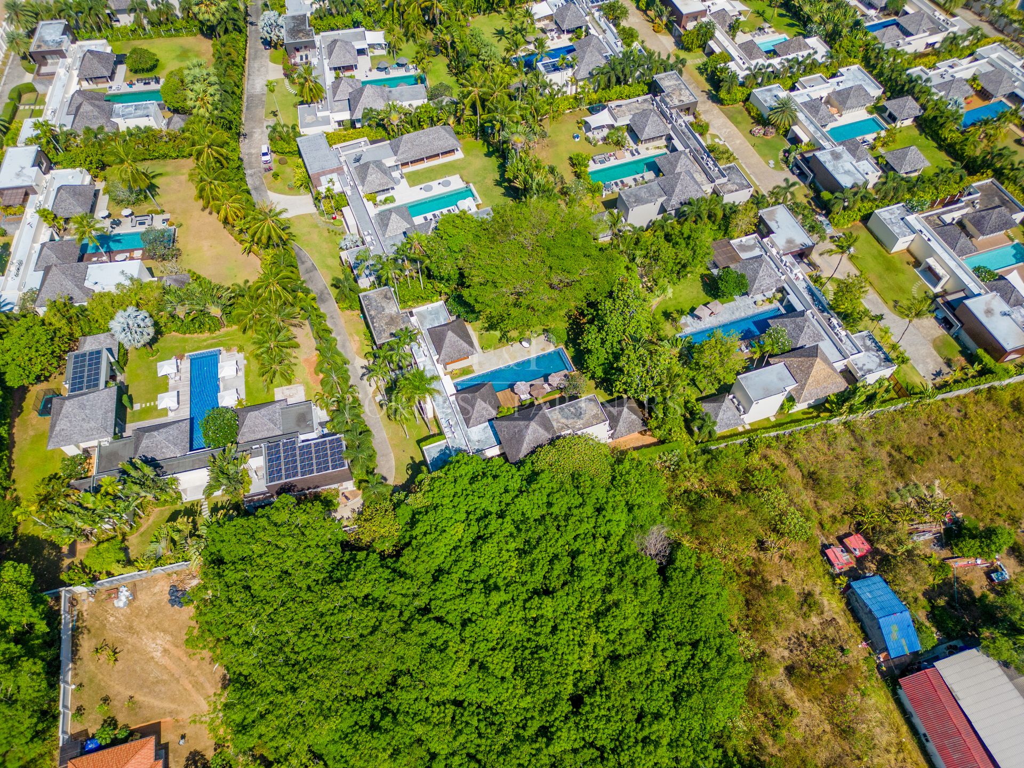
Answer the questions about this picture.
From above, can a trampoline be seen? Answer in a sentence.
Yes, the frame does contain a trampoline.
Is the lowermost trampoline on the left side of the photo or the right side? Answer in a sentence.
You can find the lowermost trampoline on the left side of the picture.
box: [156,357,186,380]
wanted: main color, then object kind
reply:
white umbrella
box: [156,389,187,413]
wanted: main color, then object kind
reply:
white umbrella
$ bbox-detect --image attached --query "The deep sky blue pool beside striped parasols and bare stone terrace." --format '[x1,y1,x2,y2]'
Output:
[452,345,582,400]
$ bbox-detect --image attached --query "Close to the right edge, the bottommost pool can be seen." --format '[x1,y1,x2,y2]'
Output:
[962,240,1024,274]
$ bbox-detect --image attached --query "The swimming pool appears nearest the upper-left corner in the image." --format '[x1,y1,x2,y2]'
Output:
[107,89,164,104]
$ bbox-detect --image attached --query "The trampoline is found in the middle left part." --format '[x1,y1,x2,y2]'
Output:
[29,387,65,421]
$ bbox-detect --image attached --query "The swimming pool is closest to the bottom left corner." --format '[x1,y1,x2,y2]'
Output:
[187,347,226,452]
